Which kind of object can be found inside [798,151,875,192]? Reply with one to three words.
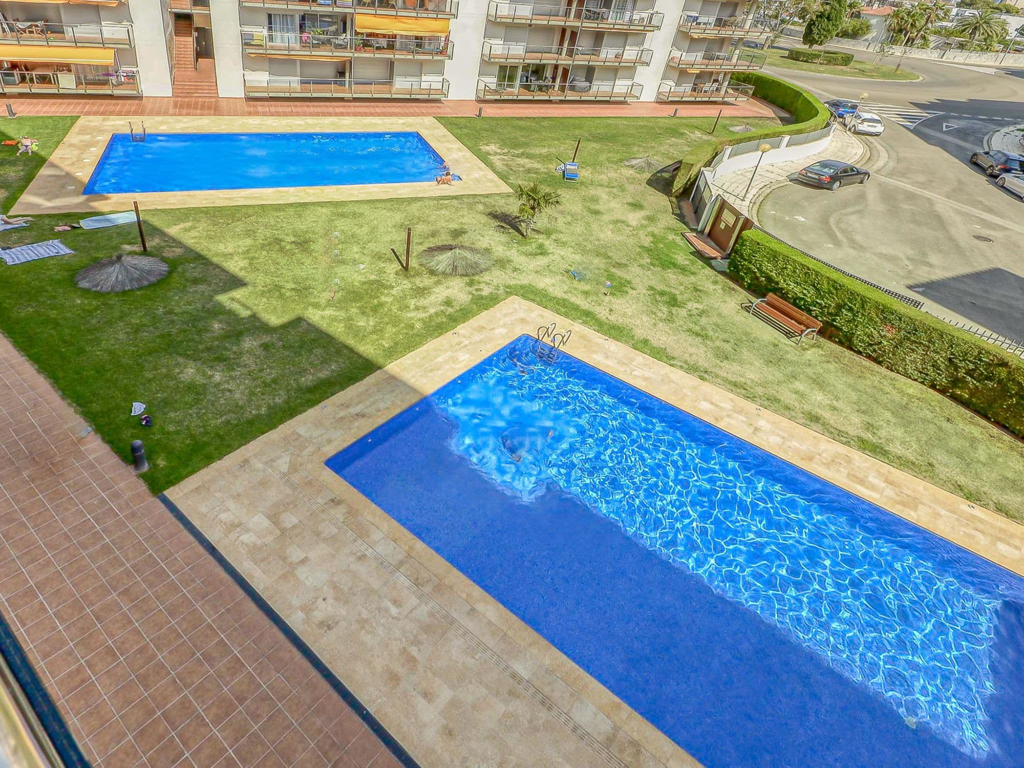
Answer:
car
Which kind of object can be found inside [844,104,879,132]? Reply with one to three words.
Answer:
car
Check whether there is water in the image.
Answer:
Yes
